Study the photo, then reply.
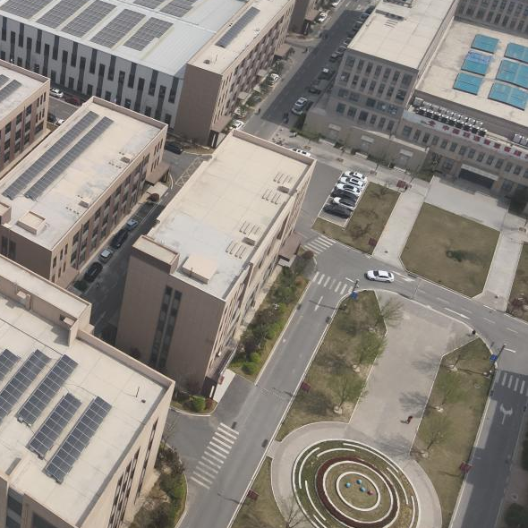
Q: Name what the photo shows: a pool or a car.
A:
car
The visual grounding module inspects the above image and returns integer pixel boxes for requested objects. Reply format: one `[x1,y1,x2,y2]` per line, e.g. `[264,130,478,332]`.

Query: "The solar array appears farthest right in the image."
[212,7,261,50]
